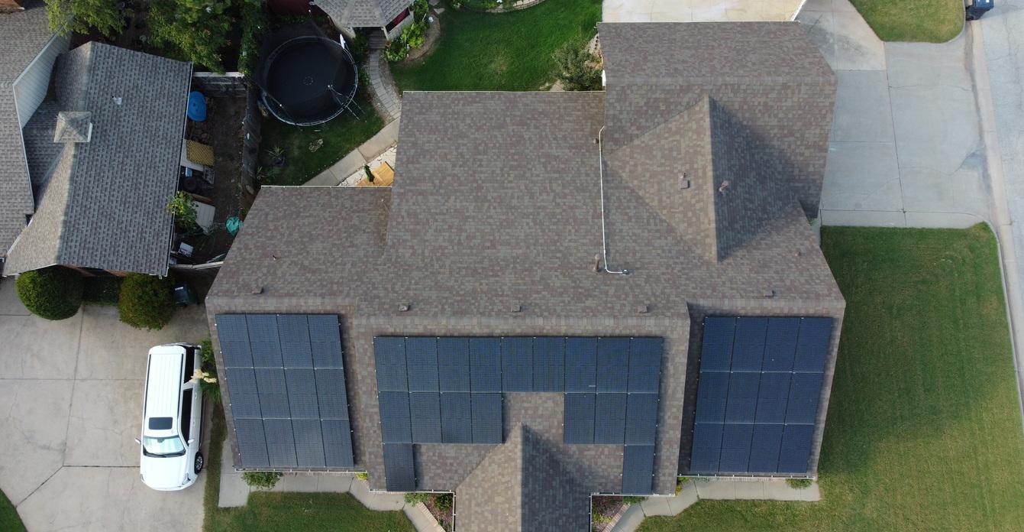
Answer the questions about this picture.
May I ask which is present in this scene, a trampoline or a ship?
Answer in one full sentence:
The image shows a trampoline.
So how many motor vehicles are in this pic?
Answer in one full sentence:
The photo contains exactly 1 motor vehicle.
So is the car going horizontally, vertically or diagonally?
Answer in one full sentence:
What the image shows is the car lying vertically.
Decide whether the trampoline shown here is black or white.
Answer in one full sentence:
In this view, the trampoline is black.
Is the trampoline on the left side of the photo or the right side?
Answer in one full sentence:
The trampoline appears in the left half of the scene.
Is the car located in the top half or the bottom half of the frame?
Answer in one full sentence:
You can find the car in the bottom half.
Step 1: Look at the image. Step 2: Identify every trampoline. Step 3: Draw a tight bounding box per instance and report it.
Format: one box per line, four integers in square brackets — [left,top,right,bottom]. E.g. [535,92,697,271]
[251,18,366,131]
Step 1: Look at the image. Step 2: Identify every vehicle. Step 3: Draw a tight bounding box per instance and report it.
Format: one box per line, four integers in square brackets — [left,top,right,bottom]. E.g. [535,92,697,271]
[135,341,210,493]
